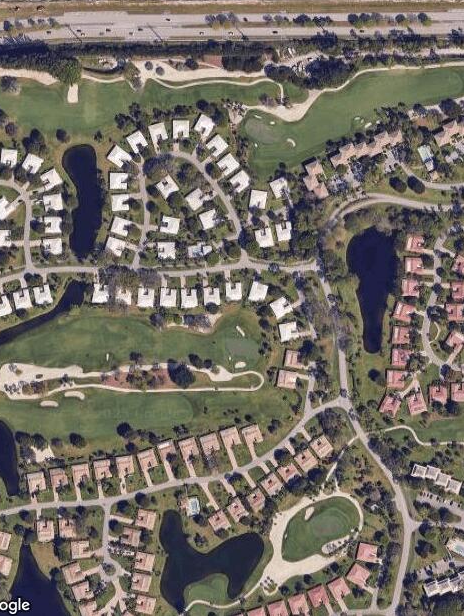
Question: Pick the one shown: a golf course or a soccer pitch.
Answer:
golf course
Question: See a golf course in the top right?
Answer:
Yes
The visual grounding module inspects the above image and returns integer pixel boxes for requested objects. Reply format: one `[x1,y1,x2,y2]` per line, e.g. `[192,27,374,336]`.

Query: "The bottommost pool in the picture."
[447,537,464,556]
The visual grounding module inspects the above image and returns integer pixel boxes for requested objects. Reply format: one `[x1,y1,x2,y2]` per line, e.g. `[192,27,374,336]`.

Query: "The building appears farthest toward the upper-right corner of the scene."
[433,118,464,148]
